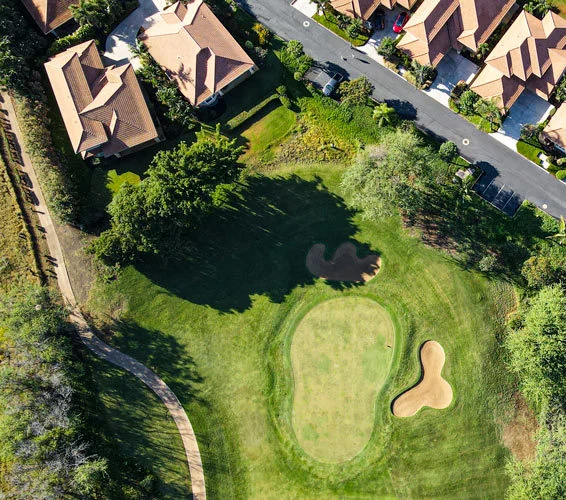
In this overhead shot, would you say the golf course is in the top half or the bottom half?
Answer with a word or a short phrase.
bottom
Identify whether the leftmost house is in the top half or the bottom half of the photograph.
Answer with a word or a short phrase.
top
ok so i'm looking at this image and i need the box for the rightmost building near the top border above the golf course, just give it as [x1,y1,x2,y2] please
[470,10,566,113]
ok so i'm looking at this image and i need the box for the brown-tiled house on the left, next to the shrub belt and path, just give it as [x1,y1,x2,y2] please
[45,40,159,157]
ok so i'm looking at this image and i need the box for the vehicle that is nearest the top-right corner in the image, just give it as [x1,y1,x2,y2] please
[392,11,410,34]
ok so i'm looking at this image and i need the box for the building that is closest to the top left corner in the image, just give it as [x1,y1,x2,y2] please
[26,0,84,37]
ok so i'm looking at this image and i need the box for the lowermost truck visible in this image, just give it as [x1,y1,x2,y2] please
[322,70,344,97]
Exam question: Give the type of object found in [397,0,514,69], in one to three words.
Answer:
house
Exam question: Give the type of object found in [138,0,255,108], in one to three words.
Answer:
house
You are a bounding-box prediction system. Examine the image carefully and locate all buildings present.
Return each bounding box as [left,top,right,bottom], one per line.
[470,10,566,113]
[138,0,255,108]
[26,0,84,37]
[540,104,566,158]
[318,0,417,20]
[45,40,159,157]
[397,0,514,69]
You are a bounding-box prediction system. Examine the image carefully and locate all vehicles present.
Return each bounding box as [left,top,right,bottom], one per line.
[322,70,344,97]
[392,11,410,34]
[373,8,386,33]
